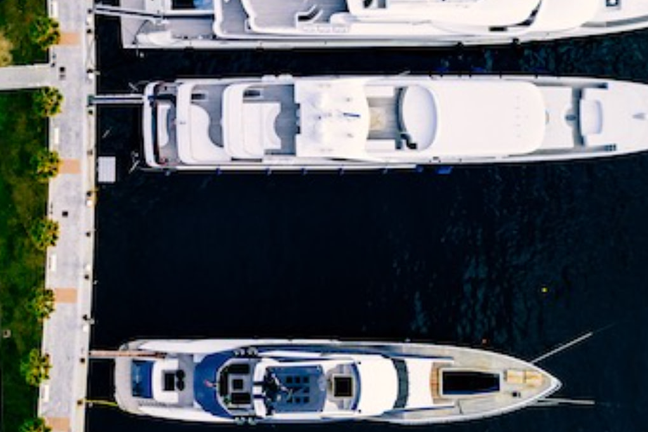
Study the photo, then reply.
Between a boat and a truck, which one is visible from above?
boat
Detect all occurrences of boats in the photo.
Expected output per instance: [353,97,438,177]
[144,67,648,174]
[117,336,560,425]
[120,0,648,52]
